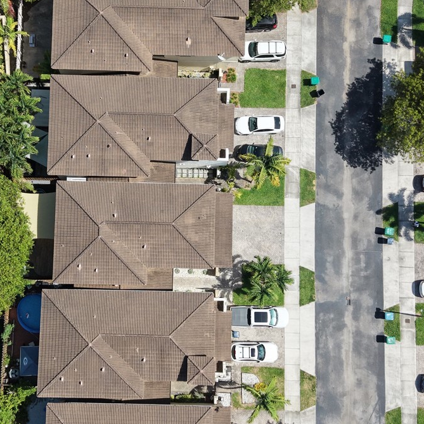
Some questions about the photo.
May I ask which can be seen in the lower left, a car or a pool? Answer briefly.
pool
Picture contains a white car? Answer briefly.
Yes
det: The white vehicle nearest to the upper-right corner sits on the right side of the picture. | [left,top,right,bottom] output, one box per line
[239,38,287,62]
